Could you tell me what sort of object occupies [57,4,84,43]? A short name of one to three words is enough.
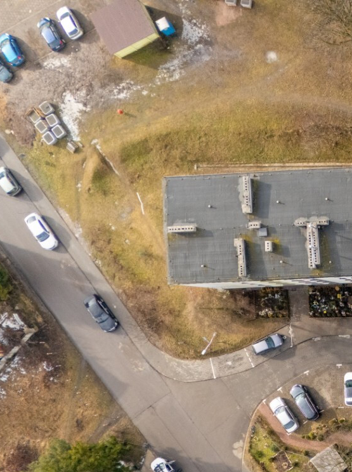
car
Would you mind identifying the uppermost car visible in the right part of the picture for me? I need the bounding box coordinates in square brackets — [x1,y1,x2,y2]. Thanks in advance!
[251,332,288,357]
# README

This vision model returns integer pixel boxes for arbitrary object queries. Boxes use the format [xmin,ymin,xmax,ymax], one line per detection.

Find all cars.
[0,56,14,84]
[23,212,61,250]
[268,397,302,434]
[342,370,352,407]
[38,15,67,54]
[83,295,120,332]
[291,383,320,422]
[0,32,25,68]
[0,164,24,197]
[57,4,84,43]
[251,332,288,357]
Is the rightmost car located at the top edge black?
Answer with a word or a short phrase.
No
